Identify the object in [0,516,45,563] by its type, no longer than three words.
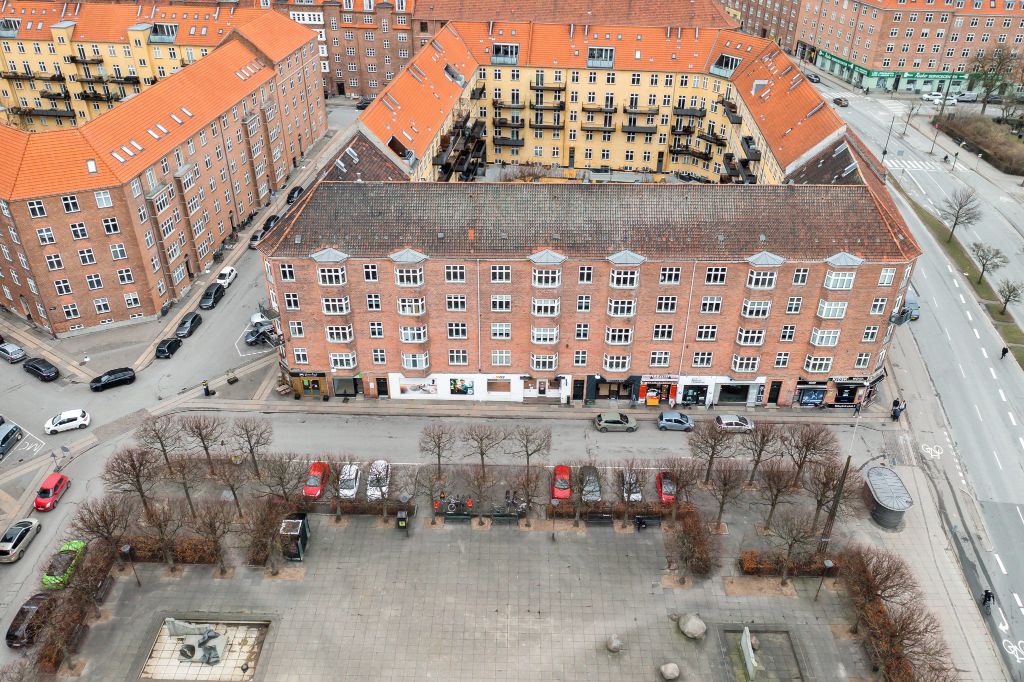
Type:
car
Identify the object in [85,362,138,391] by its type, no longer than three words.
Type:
car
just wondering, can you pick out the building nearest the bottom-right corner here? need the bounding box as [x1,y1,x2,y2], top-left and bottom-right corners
[857,468,916,536]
